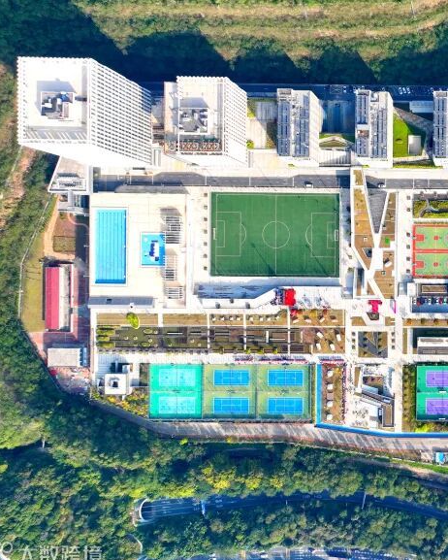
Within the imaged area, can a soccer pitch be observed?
Yes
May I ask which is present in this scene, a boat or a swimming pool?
swimming pool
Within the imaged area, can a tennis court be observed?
Yes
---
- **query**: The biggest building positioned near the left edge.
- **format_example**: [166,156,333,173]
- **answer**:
[17,57,159,169]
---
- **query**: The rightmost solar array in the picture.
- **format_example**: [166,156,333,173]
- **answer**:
[436,98,448,159]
